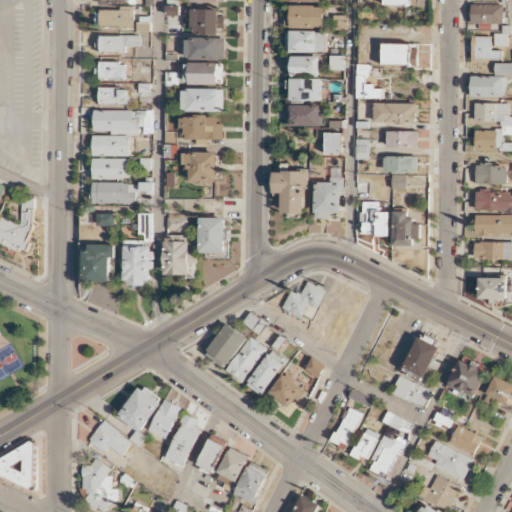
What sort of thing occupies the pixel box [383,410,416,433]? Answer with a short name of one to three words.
building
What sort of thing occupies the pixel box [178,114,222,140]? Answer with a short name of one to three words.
house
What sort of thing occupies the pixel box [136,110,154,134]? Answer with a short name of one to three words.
building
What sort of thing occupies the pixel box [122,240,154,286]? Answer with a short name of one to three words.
house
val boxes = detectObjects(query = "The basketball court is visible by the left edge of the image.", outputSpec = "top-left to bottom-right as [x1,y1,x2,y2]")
[0,344,23,379]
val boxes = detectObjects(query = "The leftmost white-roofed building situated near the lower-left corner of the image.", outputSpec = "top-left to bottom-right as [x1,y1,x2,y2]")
[0,442,32,490]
